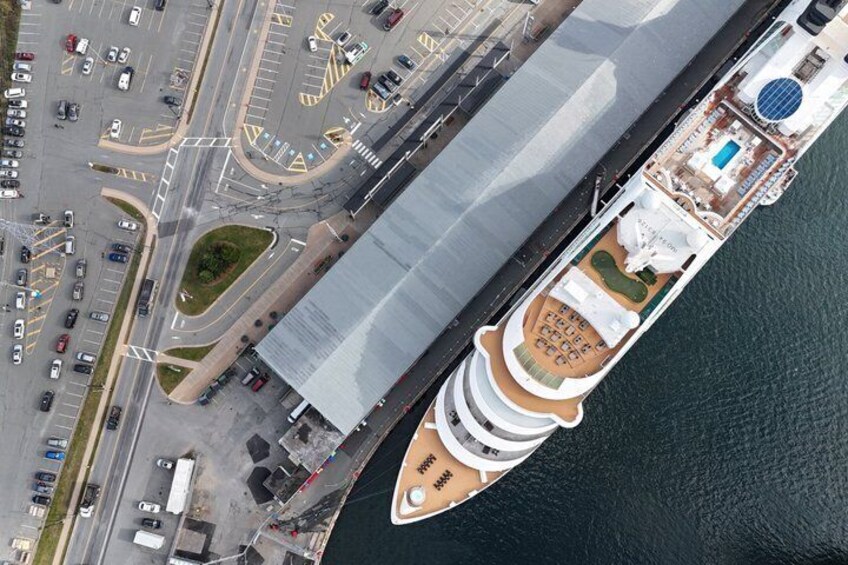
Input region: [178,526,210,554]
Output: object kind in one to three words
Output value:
shed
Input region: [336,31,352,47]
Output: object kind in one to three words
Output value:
car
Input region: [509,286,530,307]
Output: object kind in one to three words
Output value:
boat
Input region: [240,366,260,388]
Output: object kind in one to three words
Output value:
vehicle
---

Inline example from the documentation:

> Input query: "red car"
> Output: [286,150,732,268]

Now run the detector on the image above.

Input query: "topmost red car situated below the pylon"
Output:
[55,333,70,353]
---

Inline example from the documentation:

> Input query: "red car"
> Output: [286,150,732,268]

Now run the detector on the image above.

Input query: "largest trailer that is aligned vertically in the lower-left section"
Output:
[167,456,197,514]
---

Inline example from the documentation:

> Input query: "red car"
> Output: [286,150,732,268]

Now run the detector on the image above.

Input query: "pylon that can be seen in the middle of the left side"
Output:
[0,220,66,260]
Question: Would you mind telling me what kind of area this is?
port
